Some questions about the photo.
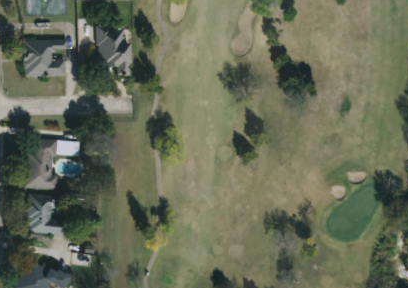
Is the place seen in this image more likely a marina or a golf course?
golf course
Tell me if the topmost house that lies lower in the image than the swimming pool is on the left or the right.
left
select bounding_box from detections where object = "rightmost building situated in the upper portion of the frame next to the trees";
[82,24,134,78]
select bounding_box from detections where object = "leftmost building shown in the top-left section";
[23,38,66,77]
